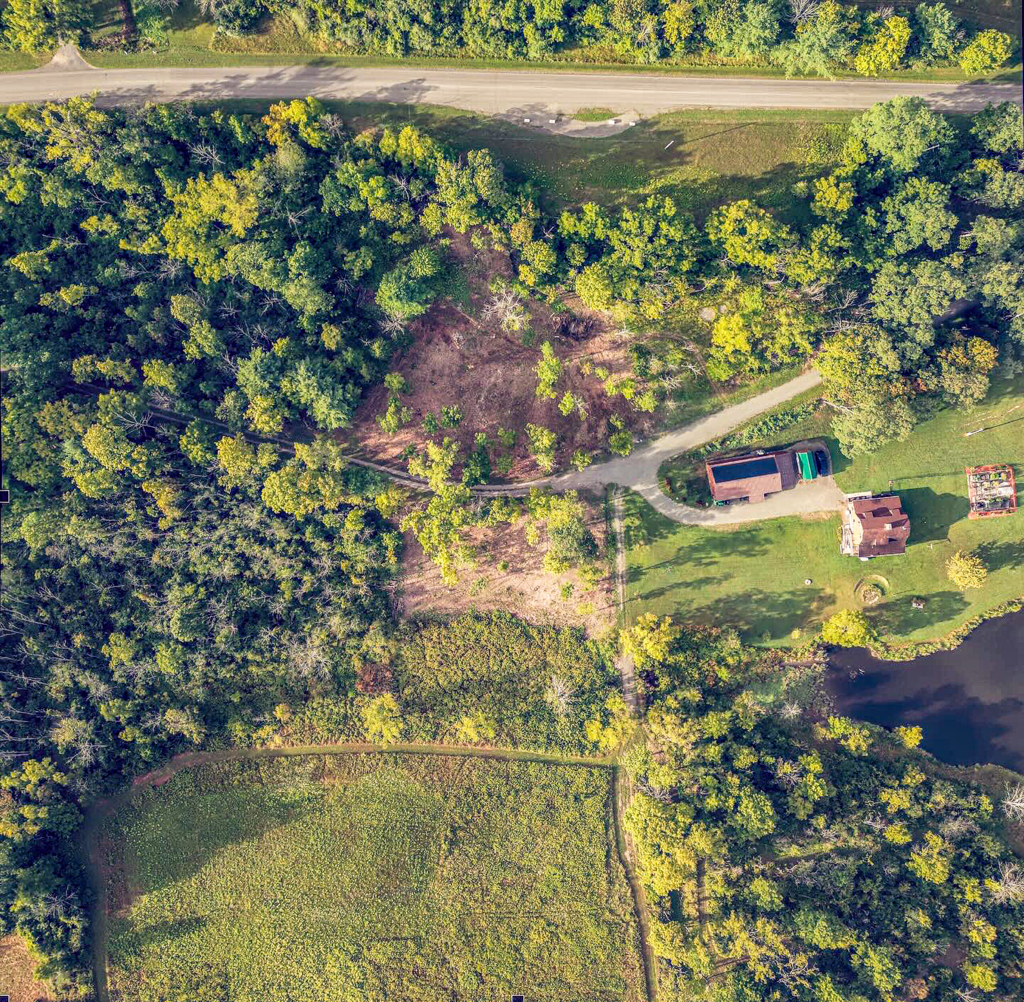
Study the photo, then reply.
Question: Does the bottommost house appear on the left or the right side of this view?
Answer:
right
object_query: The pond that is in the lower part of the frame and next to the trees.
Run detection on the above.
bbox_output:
[828,594,1024,772]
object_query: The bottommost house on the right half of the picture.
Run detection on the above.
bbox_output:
[840,493,910,563]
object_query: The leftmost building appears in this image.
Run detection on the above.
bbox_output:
[707,450,780,505]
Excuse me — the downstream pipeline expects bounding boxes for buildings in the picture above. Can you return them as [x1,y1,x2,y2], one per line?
[840,493,910,563]
[707,450,780,505]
